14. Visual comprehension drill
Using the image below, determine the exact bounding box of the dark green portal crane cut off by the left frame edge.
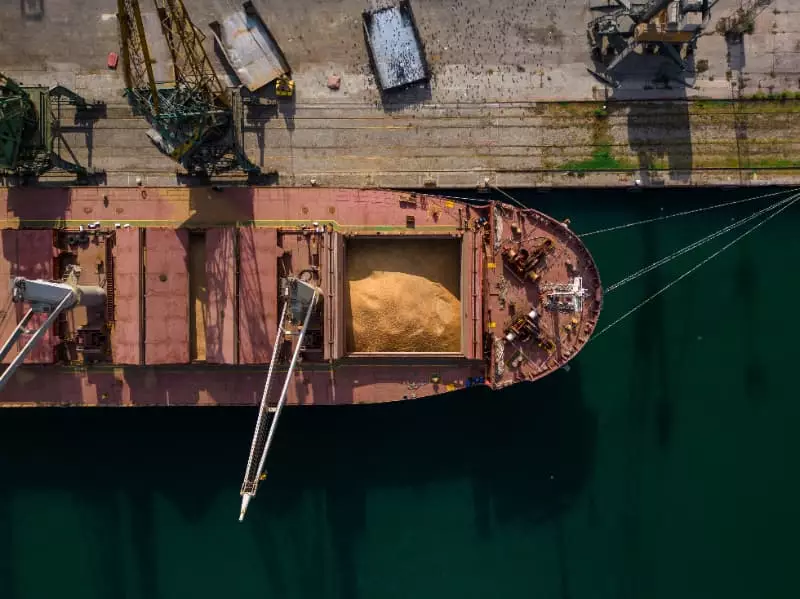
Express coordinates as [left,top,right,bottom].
[0,64,105,176]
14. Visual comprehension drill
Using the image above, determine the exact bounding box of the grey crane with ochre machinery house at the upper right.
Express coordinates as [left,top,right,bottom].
[585,0,708,90]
